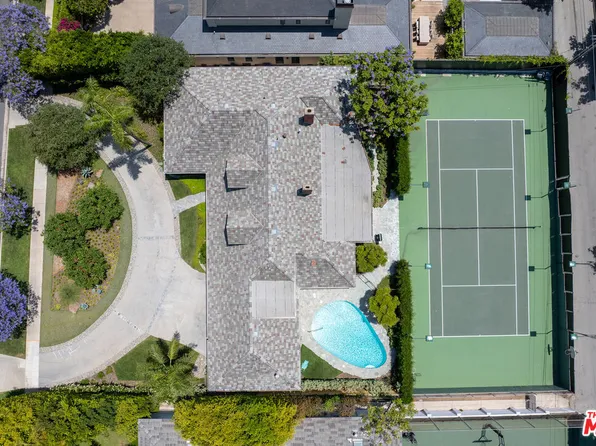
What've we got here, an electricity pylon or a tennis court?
tennis court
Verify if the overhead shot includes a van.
No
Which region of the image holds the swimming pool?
bottom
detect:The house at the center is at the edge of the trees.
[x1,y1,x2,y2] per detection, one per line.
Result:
[164,66,373,392]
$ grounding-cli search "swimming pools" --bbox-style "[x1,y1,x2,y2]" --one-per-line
[308,297,390,371]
